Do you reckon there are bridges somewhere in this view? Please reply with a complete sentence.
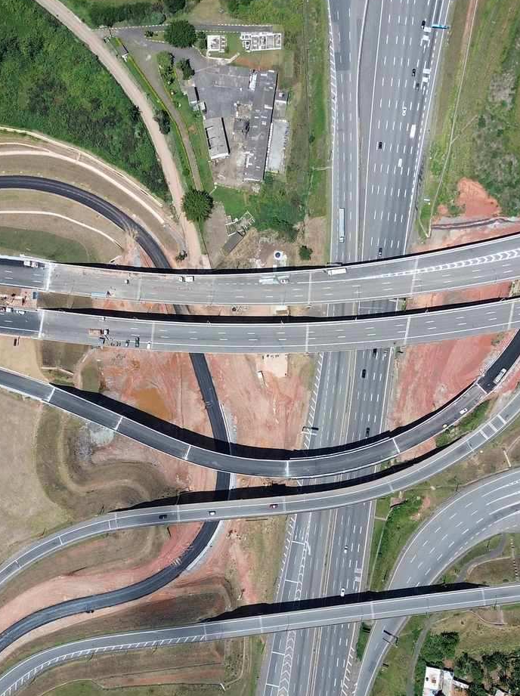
Yes, the image includes a bridge.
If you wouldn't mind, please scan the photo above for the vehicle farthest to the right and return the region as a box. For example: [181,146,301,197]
[492,368,508,383]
